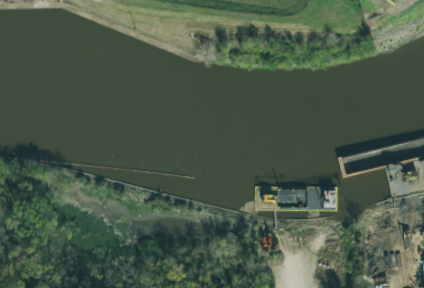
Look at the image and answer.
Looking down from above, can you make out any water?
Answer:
Yes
